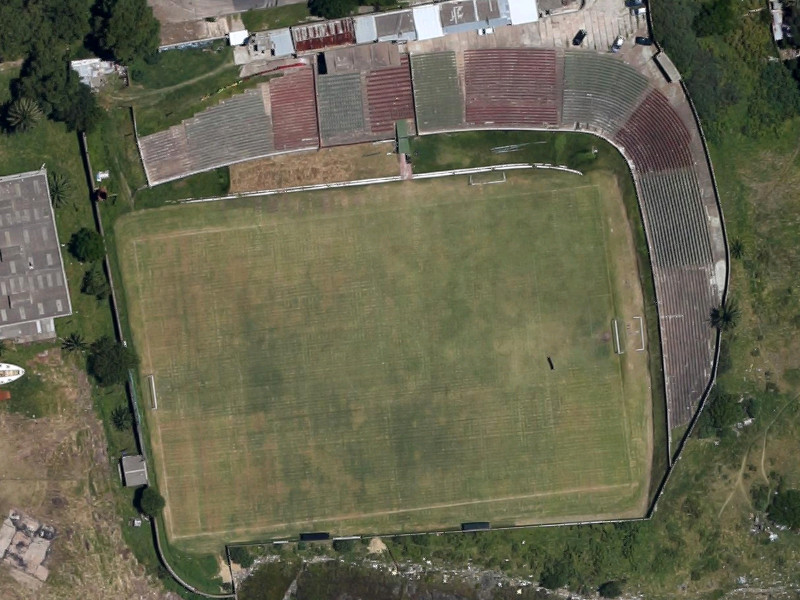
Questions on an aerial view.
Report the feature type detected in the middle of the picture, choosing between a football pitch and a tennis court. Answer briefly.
football pitch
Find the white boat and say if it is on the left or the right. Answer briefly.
left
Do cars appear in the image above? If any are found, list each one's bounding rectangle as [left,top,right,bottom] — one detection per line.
[635,36,653,45]
[623,0,643,7]
[631,5,649,15]
[571,28,588,47]
[610,34,626,52]
[477,27,495,35]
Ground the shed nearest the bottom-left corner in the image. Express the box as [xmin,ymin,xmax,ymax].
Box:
[122,455,148,487]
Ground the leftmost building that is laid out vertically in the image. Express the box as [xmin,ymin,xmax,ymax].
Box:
[0,165,75,330]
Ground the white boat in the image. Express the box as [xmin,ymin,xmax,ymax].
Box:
[0,363,26,384]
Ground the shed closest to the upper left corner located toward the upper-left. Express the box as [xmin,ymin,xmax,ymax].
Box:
[72,59,113,88]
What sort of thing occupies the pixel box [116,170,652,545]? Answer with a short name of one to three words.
soccer field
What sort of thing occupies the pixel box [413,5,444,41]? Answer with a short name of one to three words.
building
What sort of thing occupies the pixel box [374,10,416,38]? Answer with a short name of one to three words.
building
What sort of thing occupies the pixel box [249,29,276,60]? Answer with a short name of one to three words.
house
